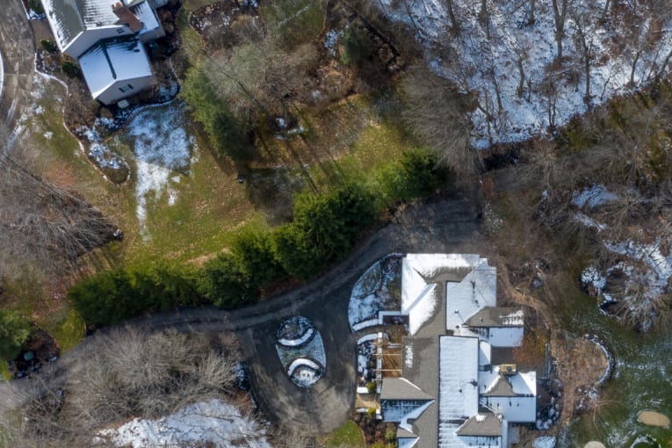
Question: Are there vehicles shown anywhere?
No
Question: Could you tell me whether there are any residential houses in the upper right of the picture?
No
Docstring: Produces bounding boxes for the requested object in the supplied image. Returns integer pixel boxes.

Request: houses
[380,254,536,448]
[40,0,167,101]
